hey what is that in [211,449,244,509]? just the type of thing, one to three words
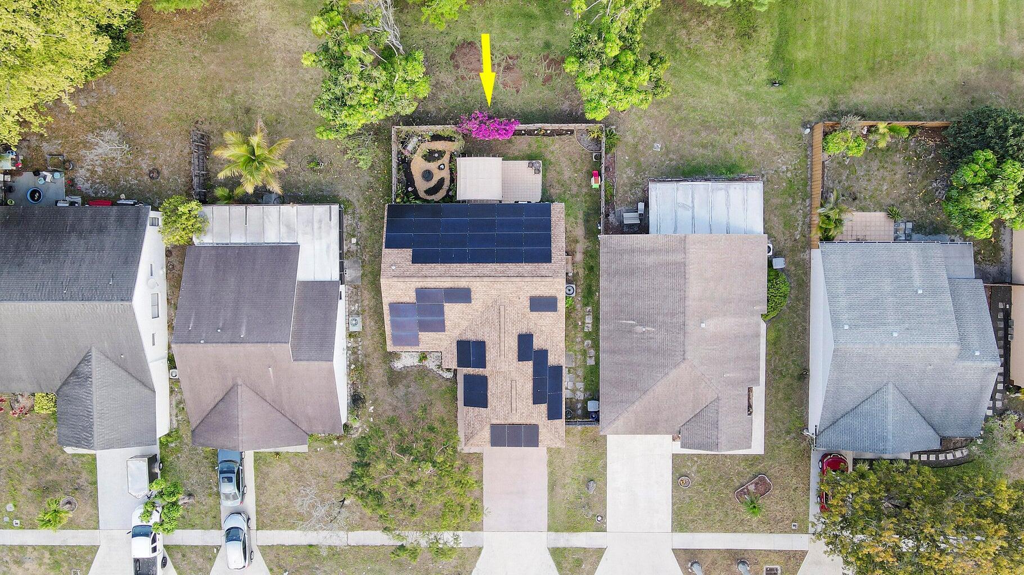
car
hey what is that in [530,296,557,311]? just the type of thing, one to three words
solar panel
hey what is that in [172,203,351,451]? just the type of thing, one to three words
house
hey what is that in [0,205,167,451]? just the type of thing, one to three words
house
